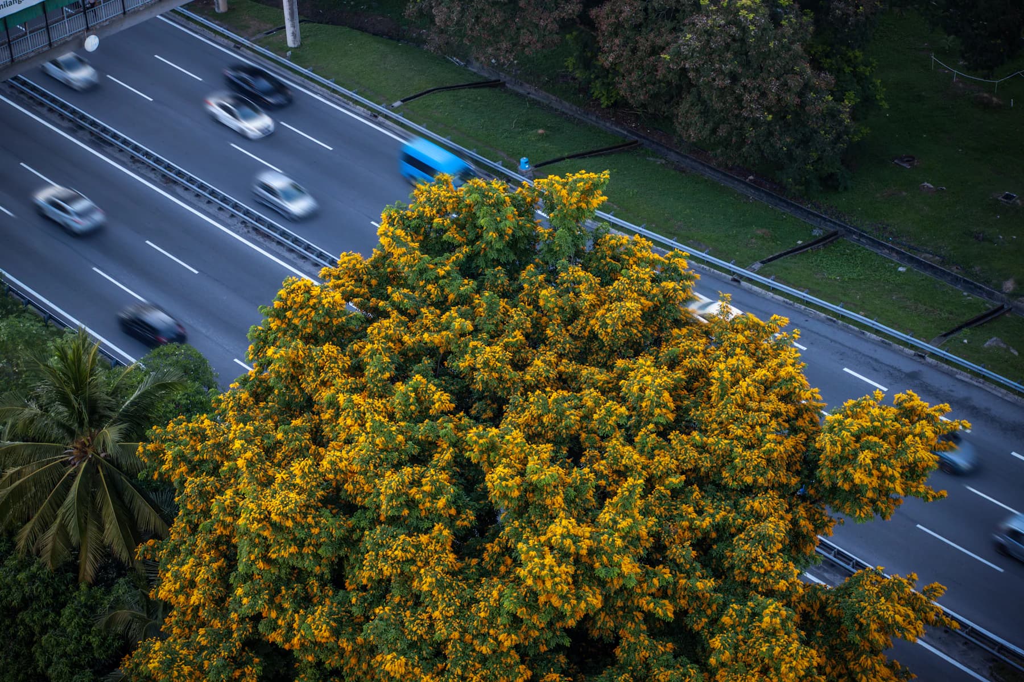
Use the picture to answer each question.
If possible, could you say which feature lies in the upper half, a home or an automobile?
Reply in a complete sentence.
What appears in the upper half is an automobile.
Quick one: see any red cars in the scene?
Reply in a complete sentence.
No, no red car is visible in the view.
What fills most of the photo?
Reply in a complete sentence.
For the most part, this view shows trees.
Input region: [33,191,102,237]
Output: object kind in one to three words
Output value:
car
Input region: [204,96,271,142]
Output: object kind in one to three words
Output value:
car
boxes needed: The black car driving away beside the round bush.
[113,301,190,354]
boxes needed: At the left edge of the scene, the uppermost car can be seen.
[42,53,98,94]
